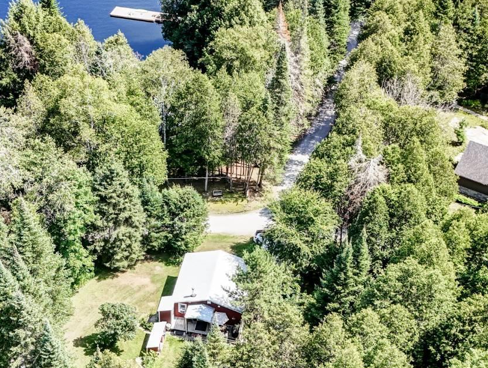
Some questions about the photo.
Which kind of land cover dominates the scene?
trees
